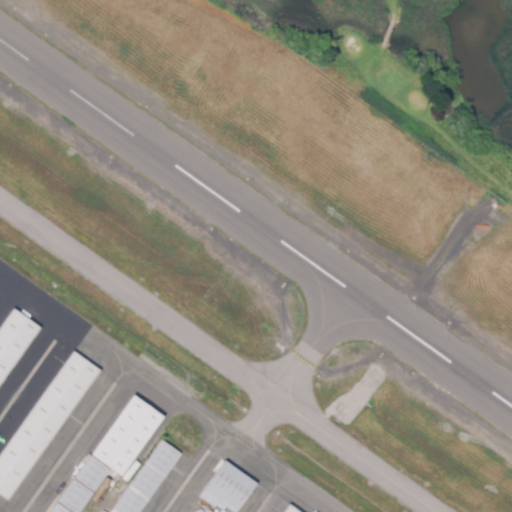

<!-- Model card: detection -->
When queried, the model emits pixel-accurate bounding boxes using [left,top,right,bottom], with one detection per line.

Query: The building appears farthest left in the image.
[0,308,42,386]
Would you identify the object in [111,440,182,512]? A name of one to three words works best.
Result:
hangar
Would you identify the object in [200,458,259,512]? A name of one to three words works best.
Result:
hangar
